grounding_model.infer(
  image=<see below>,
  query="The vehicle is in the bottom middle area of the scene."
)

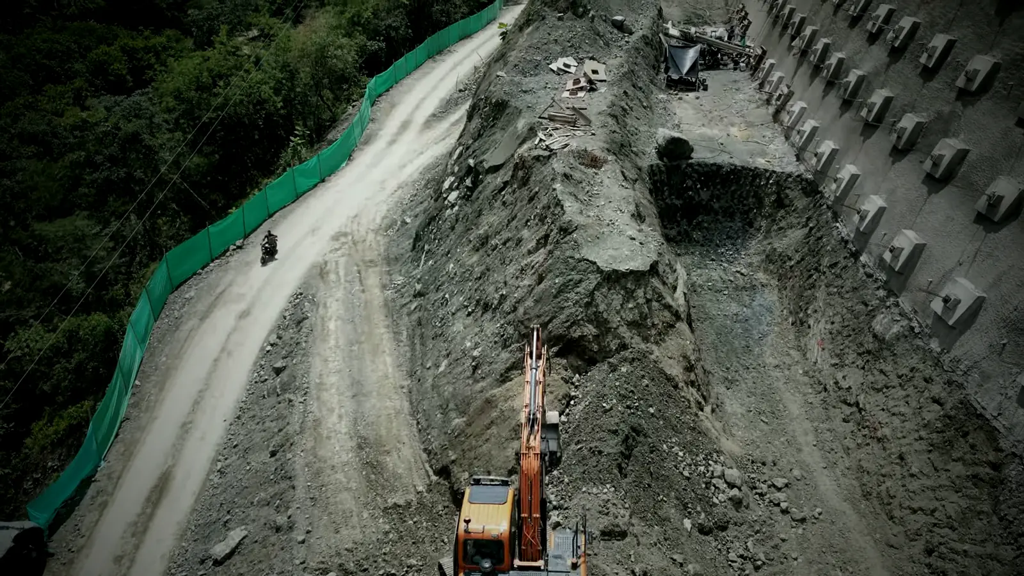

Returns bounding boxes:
[434,316,599,576]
